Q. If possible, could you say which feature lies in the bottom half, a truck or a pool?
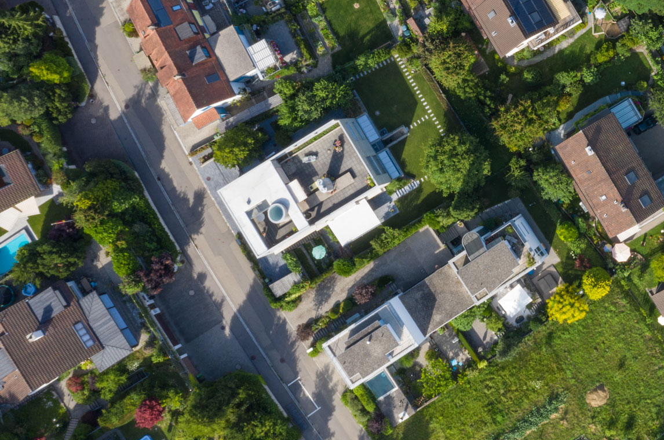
pool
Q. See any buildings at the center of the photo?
Yes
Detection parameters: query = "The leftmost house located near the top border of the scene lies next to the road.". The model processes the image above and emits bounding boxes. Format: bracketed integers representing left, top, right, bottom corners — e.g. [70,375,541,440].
[127,0,260,129]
